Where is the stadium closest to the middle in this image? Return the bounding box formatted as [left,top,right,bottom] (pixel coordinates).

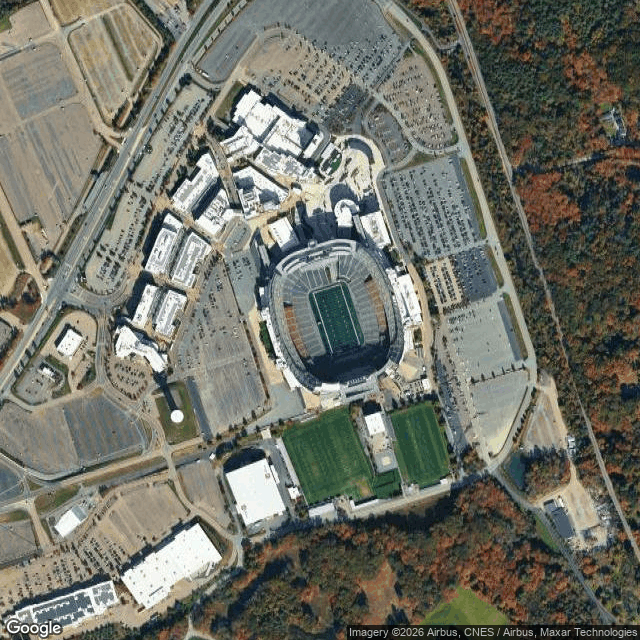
[269,239,406,406]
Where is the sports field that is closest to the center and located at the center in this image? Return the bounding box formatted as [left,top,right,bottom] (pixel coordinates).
[309,280,365,356]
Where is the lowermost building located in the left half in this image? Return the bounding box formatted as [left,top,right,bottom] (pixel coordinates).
[2,581,119,640]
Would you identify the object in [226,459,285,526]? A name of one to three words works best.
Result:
building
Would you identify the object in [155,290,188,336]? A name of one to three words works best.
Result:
building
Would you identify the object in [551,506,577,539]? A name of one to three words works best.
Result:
shed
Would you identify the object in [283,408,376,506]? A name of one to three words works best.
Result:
sports field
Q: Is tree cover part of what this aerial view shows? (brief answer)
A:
Yes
